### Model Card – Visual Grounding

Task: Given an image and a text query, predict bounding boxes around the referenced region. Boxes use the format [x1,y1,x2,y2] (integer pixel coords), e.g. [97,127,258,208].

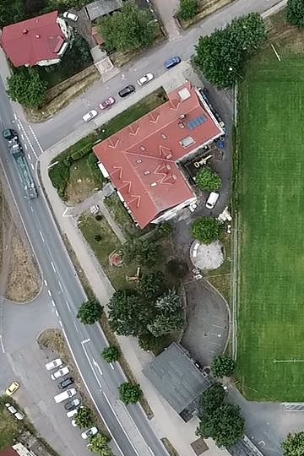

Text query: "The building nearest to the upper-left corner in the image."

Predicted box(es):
[1,11,76,68]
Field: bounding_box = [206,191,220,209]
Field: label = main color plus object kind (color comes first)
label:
white vehicle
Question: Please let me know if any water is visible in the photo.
No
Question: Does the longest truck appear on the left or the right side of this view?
left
